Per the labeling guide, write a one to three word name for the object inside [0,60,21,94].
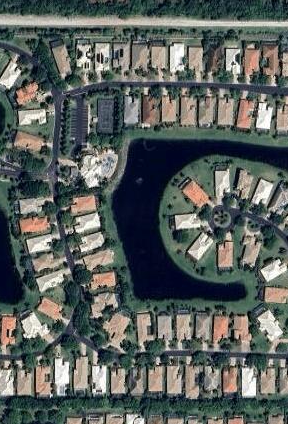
house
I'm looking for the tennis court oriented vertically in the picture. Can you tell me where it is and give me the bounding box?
[98,99,114,134]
